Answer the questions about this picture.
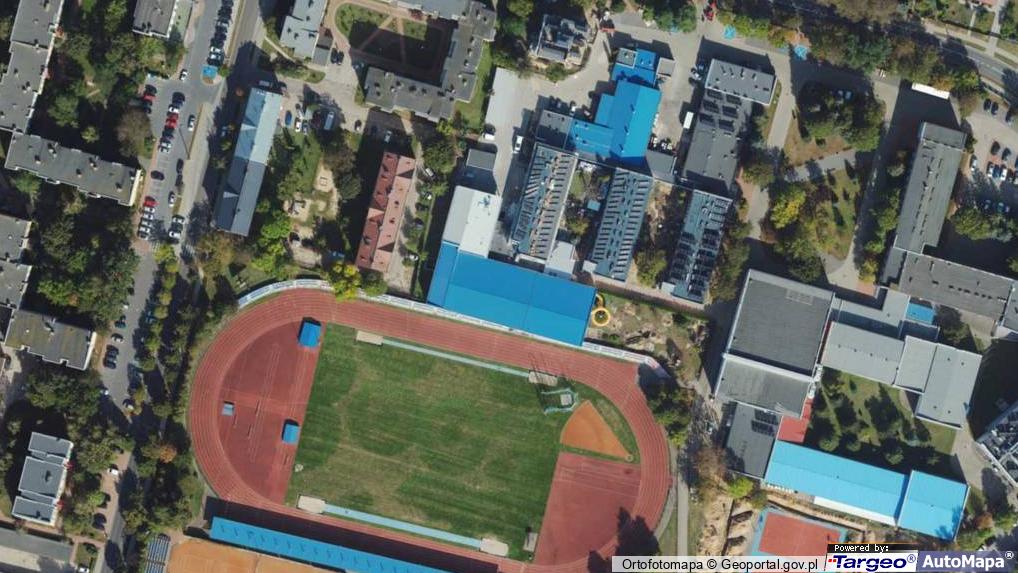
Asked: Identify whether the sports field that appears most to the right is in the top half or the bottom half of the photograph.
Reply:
bottom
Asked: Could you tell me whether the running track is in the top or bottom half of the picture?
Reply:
bottom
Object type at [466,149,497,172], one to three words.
house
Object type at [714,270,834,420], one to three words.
building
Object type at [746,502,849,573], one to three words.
sports court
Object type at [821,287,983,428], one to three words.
building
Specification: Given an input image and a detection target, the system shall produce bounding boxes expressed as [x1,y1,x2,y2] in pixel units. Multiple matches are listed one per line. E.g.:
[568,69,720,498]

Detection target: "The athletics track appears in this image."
[188,288,671,573]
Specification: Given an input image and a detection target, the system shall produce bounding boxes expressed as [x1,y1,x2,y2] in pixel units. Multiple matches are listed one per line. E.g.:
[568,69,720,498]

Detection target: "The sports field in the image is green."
[284,322,638,565]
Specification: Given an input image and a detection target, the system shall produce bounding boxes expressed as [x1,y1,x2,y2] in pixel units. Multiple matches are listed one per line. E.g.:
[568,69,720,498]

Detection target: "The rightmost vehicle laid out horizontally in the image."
[911,84,949,99]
